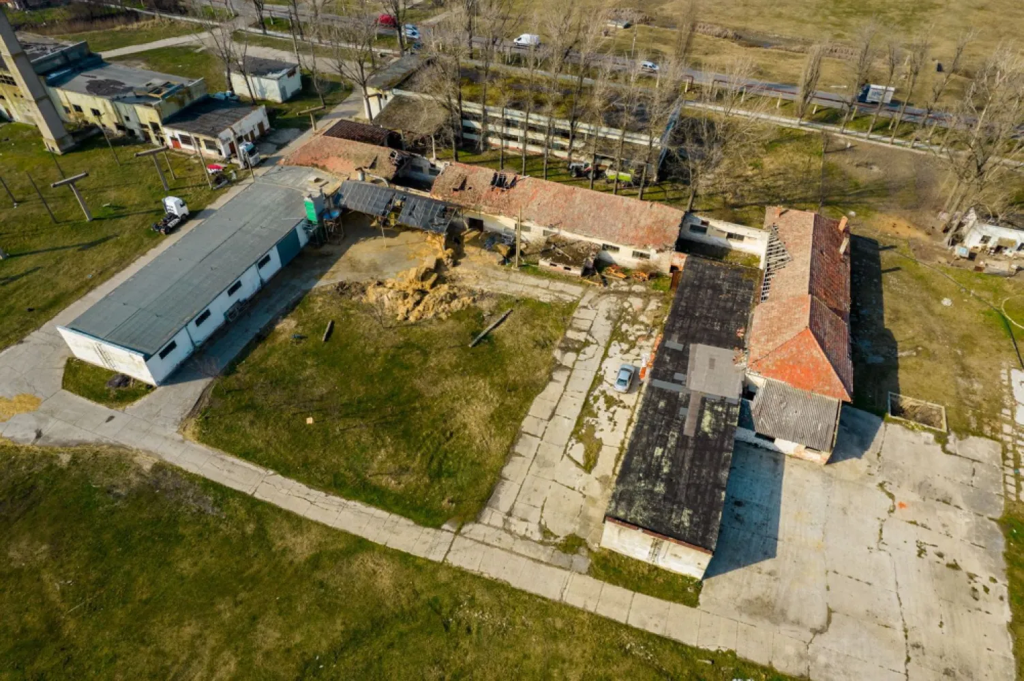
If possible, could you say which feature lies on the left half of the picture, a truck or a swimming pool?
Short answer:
truck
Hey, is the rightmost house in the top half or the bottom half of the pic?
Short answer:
top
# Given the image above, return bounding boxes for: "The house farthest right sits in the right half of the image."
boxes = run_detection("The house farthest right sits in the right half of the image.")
[944,213,1024,259]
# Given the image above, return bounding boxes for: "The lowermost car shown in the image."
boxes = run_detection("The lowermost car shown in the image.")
[616,362,635,391]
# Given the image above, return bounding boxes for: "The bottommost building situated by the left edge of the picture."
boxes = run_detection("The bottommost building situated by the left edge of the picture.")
[50,182,335,387]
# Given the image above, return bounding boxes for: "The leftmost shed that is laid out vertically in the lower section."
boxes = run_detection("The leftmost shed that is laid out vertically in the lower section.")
[599,255,762,581]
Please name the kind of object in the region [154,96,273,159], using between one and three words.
building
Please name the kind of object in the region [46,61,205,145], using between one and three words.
building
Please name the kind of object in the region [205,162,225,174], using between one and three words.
vehicle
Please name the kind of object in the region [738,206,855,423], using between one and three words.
house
